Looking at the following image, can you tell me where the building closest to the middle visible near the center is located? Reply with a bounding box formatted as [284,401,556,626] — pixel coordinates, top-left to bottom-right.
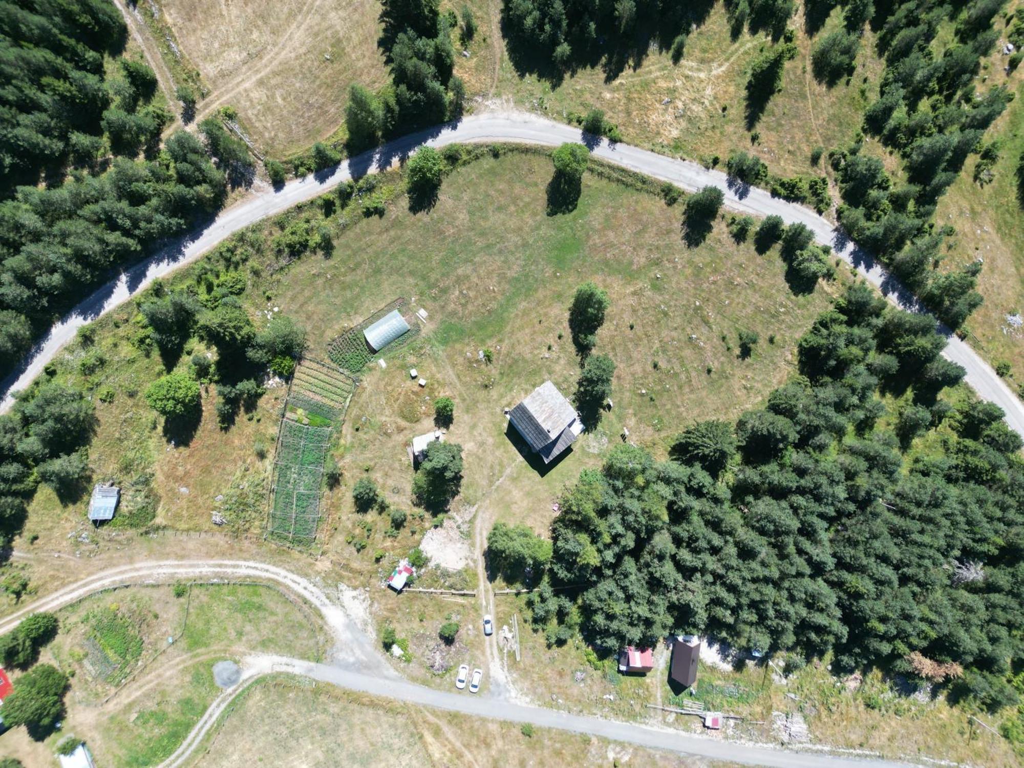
[508,381,584,463]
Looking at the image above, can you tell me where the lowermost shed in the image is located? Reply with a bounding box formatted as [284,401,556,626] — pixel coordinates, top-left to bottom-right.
[60,740,103,768]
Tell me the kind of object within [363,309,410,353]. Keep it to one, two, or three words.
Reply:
greenhouse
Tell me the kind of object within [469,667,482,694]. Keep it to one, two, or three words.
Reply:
vehicle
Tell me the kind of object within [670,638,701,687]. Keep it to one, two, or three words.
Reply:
house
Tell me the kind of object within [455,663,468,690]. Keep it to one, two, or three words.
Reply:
vehicle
